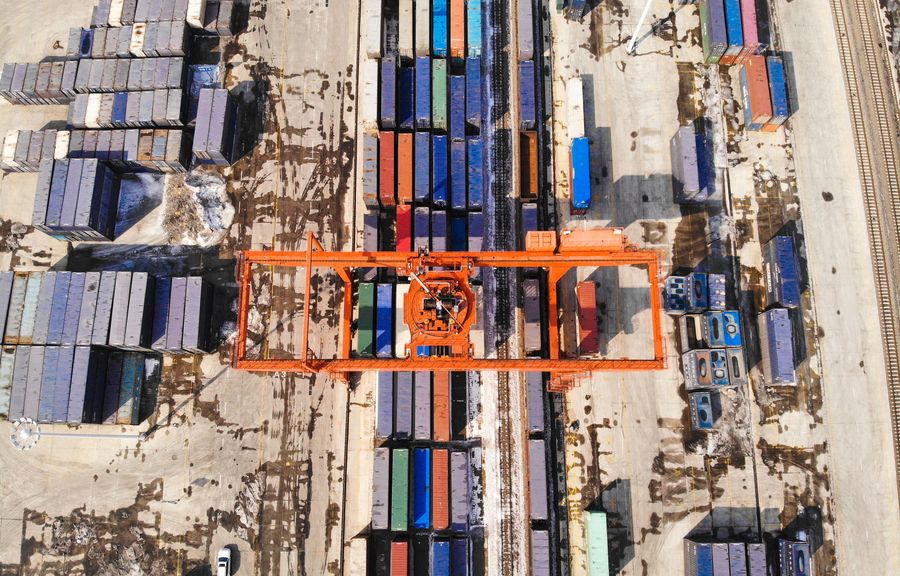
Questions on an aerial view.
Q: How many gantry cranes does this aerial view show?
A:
1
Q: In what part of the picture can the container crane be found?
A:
center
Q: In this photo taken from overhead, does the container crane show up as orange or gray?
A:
orange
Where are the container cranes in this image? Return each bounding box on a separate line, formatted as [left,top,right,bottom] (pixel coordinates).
[224,229,672,387]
